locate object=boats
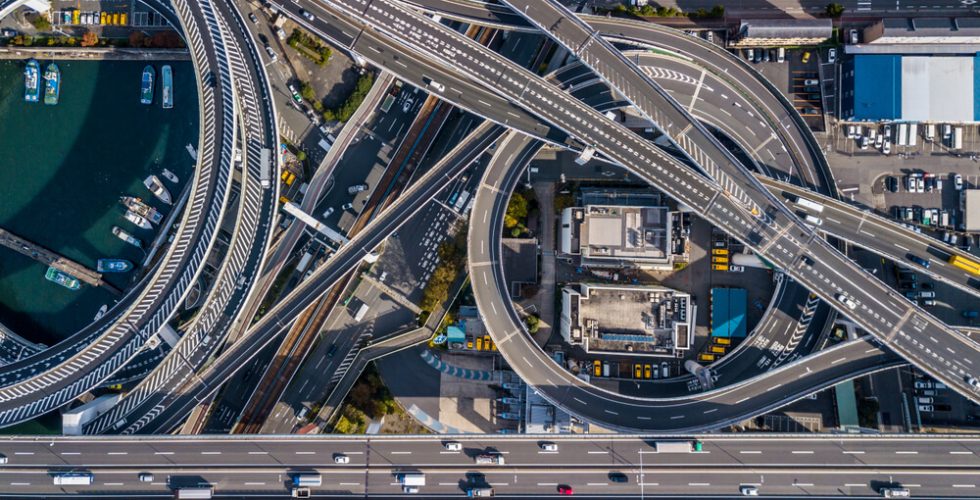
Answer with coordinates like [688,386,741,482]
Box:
[92,304,106,320]
[186,144,195,159]
[140,63,152,103]
[120,194,159,219]
[43,268,79,287]
[162,168,178,182]
[44,62,58,103]
[96,260,132,273]
[161,64,171,107]
[122,210,151,227]
[23,60,37,102]
[110,227,142,248]
[141,173,170,203]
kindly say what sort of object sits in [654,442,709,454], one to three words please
vehicle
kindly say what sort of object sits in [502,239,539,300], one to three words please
building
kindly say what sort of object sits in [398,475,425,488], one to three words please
vehicle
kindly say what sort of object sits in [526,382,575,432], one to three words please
building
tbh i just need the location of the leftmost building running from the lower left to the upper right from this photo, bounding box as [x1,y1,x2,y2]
[63,378,145,434]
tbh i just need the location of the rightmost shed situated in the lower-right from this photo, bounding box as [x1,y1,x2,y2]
[826,378,862,434]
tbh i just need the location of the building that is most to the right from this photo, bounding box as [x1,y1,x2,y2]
[947,190,980,233]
